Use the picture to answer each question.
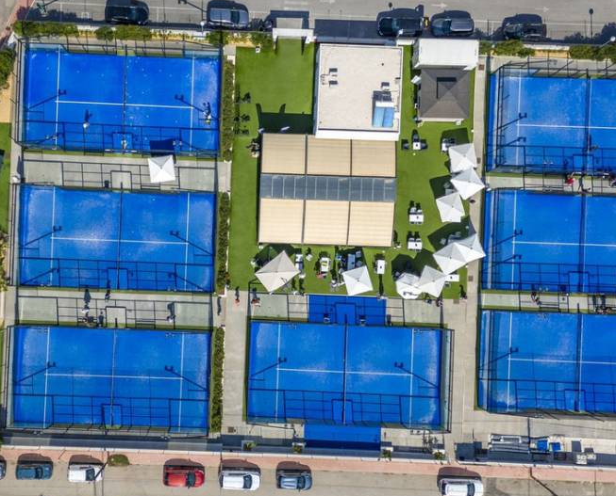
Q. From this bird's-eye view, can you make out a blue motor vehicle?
Yes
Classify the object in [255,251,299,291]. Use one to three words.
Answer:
umbrella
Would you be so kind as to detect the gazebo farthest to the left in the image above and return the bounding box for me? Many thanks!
[149,155,177,184]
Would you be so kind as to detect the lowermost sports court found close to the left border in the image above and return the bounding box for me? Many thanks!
[1,320,218,442]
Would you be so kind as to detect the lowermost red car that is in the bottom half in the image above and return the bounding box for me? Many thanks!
[163,467,206,490]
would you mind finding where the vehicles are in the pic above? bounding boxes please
[501,18,549,43]
[163,467,206,490]
[438,479,484,496]
[67,463,104,484]
[430,14,476,38]
[220,468,262,492]
[277,471,313,493]
[104,2,150,26]
[376,12,424,37]
[206,5,250,29]
[15,461,54,484]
